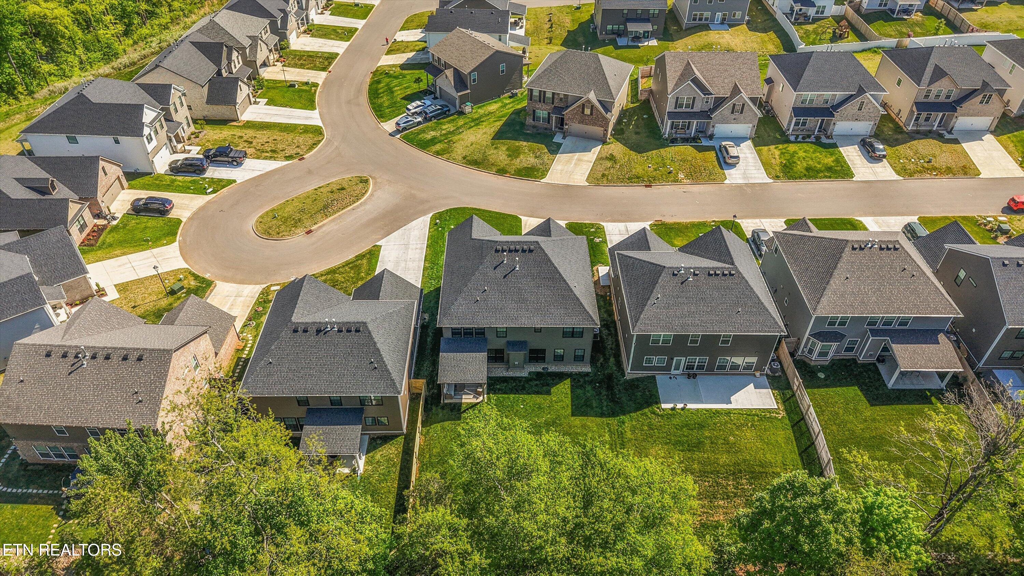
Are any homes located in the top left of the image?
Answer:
Yes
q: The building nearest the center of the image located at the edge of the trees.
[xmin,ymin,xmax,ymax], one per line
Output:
[437,214,600,404]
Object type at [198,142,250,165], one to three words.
truck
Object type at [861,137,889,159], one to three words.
car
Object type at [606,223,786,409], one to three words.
house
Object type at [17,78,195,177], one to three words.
house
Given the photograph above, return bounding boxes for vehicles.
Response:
[402,97,433,114]
[900,216,932,240]
[861,137,889,159]
[198,142,250,165]
[750,227,769,250]
[391,113,424,132]
[720,142,742,164]
[166,153,210,173]
[129,193,176,215]
[419,102,451,121]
